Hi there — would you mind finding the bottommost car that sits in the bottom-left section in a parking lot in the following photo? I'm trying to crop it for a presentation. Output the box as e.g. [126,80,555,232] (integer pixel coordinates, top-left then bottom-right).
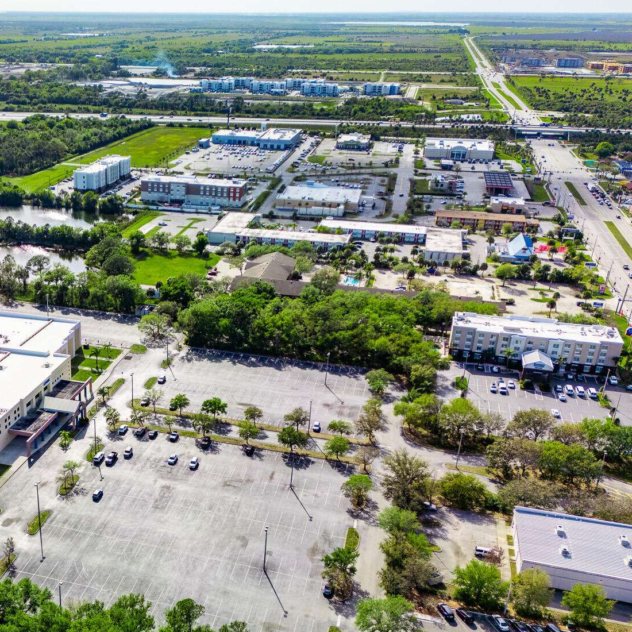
[90,487,105,500]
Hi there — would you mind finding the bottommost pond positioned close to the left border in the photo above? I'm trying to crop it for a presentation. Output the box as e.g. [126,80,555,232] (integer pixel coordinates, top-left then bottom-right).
[0,244,87,278]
